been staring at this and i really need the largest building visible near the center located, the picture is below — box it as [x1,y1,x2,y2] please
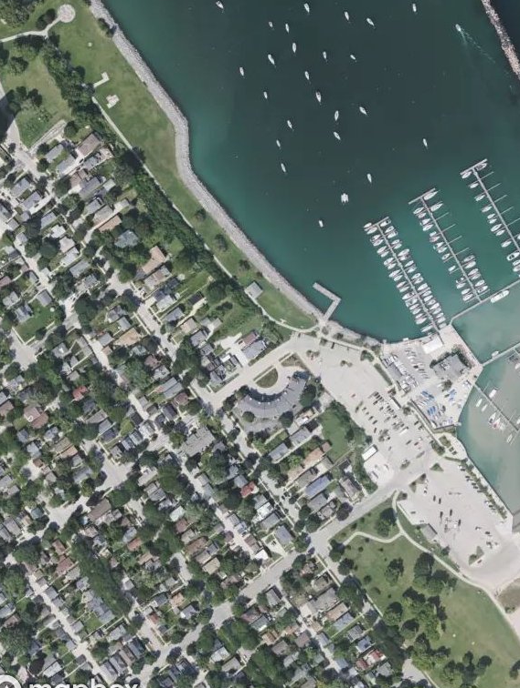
[236,380,310,419]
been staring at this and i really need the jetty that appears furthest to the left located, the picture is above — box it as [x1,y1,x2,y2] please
[313,283,340,325]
